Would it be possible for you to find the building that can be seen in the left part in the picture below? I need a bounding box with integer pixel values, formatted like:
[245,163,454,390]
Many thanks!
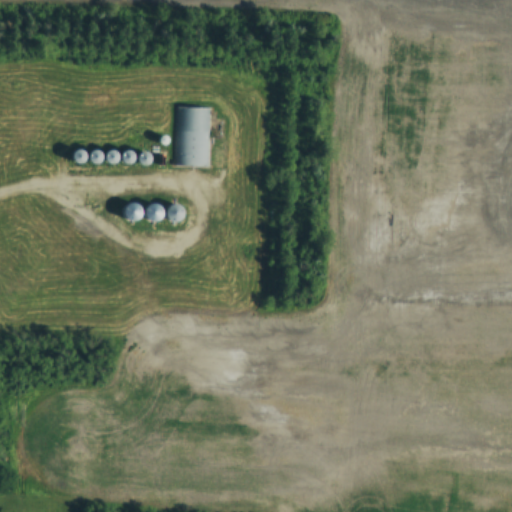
[177,106,212,168]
